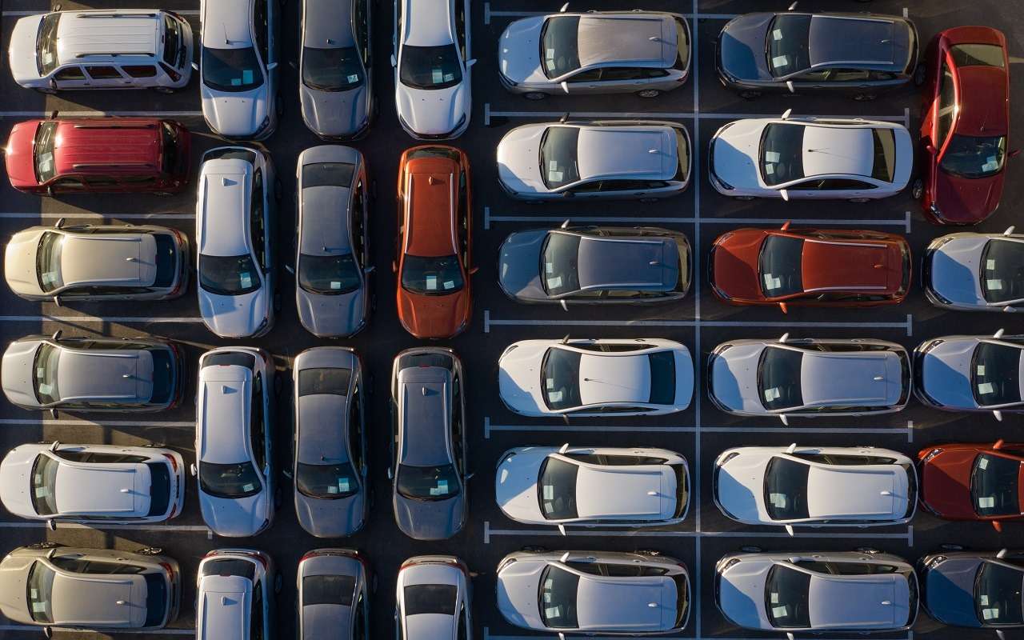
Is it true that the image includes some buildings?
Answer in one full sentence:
No, I can't see a single building in this photo.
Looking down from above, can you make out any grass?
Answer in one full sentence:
No, no grass is visible.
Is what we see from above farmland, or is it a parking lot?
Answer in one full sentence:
It's a parking lot.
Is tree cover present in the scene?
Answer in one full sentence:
No, there's no tree cover in this view.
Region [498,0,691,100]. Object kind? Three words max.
car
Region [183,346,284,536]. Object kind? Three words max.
car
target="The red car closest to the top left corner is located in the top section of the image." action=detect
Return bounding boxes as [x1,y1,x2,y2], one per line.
[2,106,196,200]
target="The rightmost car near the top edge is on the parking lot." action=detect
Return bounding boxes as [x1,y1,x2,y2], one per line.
[907,25,1020,226]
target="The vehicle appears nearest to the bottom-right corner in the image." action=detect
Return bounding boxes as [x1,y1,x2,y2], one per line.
[915,541,1024,640]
